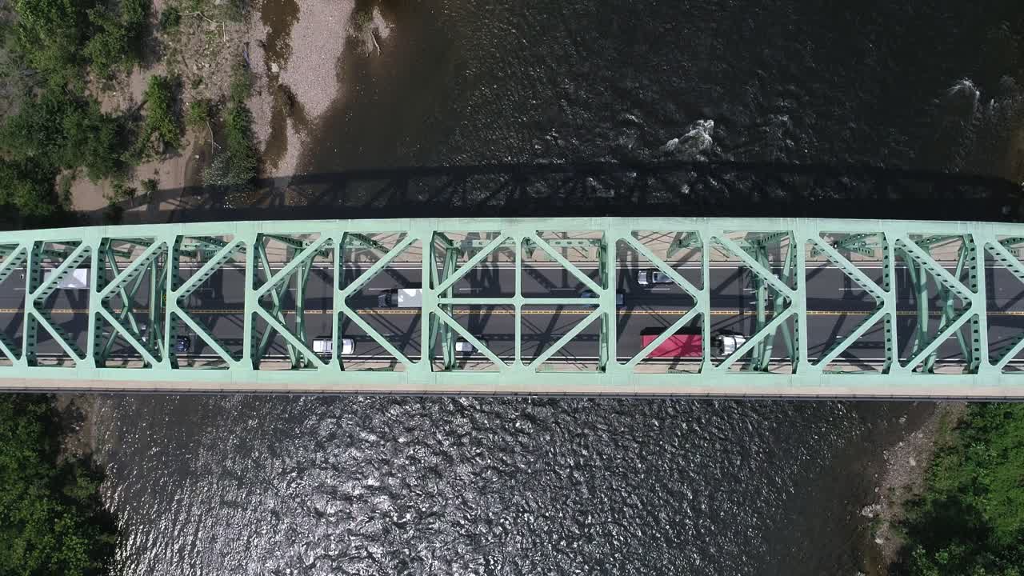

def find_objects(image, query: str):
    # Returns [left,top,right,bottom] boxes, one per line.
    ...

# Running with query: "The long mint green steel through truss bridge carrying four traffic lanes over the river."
[0,217,1024,403]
